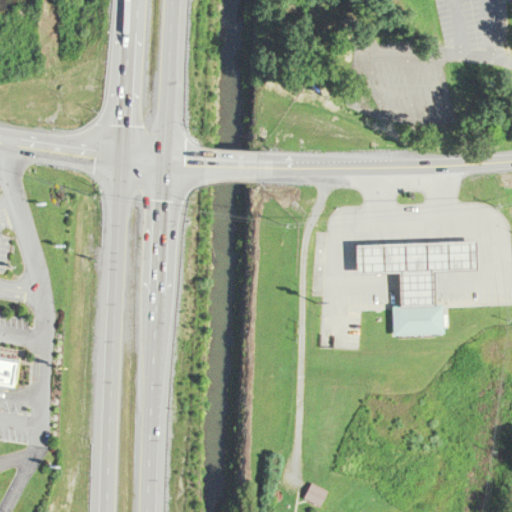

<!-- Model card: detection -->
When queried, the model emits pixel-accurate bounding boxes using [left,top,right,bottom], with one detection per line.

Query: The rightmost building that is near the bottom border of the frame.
[304,484,328,507]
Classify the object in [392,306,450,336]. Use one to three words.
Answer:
building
